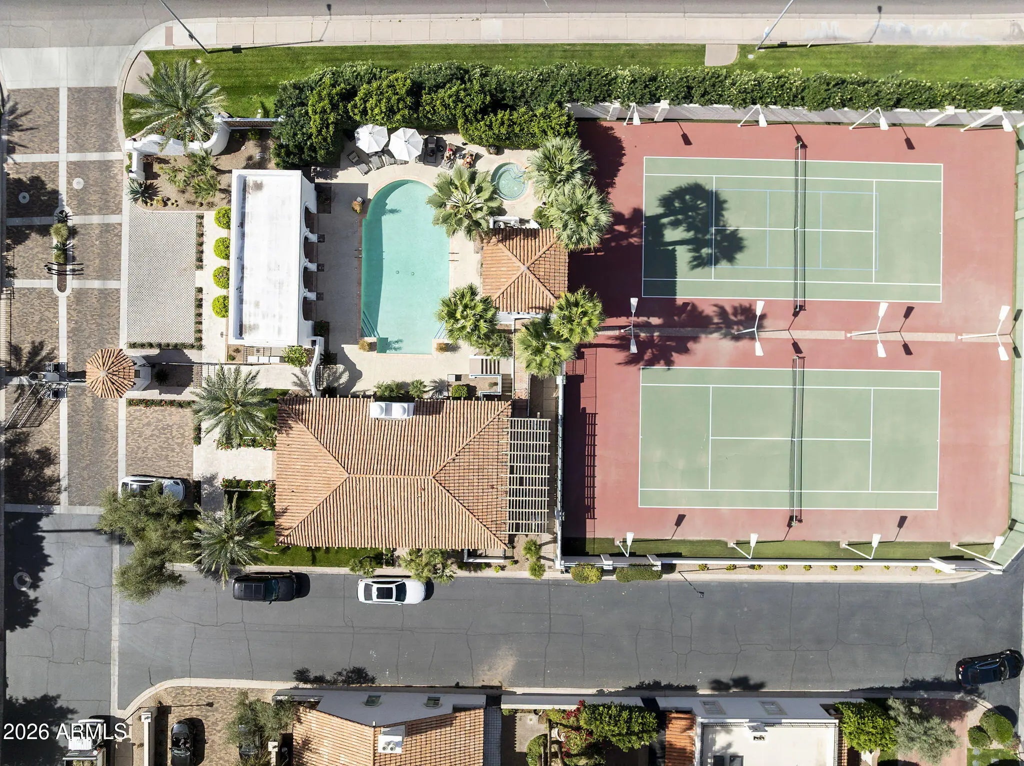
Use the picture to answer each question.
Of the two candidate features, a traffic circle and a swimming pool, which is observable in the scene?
swimming pool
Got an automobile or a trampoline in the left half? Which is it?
automobile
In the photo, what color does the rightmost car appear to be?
black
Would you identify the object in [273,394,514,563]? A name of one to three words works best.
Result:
building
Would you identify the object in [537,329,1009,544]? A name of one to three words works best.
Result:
tennis court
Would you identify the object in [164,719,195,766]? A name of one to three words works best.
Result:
car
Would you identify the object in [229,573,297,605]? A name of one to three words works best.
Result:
car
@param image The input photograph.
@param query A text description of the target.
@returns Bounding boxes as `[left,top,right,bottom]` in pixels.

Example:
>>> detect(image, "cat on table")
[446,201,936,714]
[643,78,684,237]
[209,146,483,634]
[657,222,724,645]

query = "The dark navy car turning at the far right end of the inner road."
[955,651,1023,688]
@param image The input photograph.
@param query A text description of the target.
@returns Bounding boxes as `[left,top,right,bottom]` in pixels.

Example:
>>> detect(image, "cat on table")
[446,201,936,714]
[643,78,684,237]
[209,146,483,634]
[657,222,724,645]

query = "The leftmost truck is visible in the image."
[60,721,107,766]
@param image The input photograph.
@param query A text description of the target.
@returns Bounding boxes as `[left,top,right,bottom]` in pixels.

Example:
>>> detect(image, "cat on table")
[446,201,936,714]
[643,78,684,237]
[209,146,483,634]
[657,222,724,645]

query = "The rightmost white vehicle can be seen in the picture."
[358,577,427,608]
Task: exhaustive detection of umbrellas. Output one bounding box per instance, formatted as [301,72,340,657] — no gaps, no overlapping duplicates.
[389,126,425,161]
[354,119,390,153]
